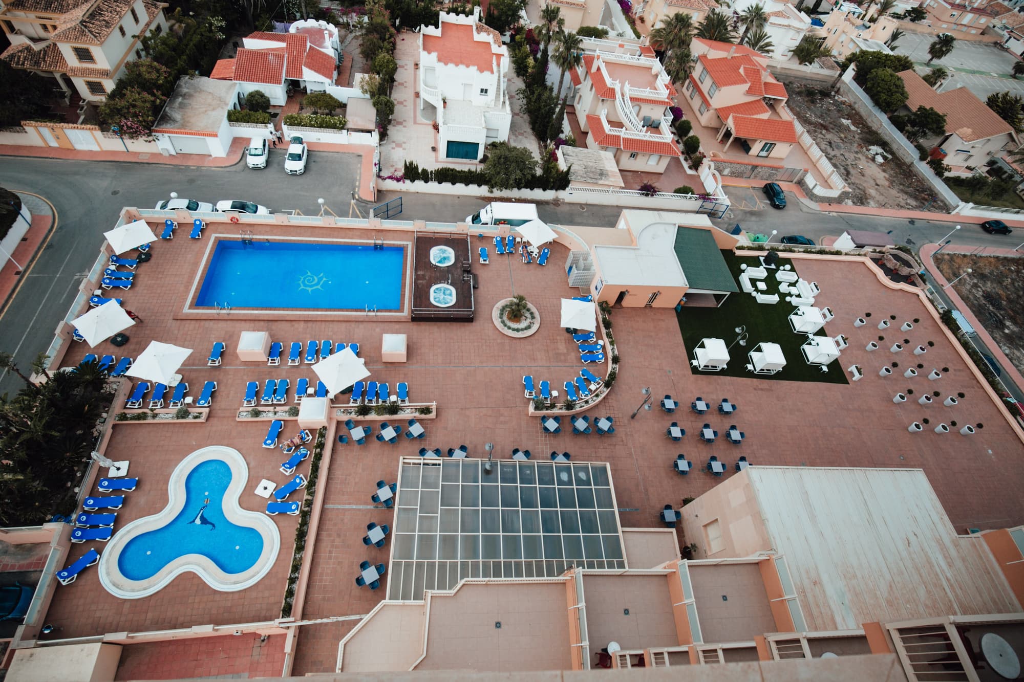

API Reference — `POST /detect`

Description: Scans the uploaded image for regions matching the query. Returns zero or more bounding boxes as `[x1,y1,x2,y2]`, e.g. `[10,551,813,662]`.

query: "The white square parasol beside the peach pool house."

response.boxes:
[560,298,596,335]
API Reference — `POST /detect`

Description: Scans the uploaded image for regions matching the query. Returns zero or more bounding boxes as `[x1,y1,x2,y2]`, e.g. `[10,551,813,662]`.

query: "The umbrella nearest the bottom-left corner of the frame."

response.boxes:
[91,452,117,468]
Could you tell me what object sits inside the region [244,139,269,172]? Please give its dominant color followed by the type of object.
white car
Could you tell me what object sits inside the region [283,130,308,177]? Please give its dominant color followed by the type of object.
white car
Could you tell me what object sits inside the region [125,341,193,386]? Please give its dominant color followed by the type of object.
white umbrella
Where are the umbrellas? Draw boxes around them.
[515,218,558,248]
[311,348,371,398]
[91,452,117,468]
[560,298,596,335]
[71,299,136,349]
[125,341,193,386]
[104,219,158,261]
